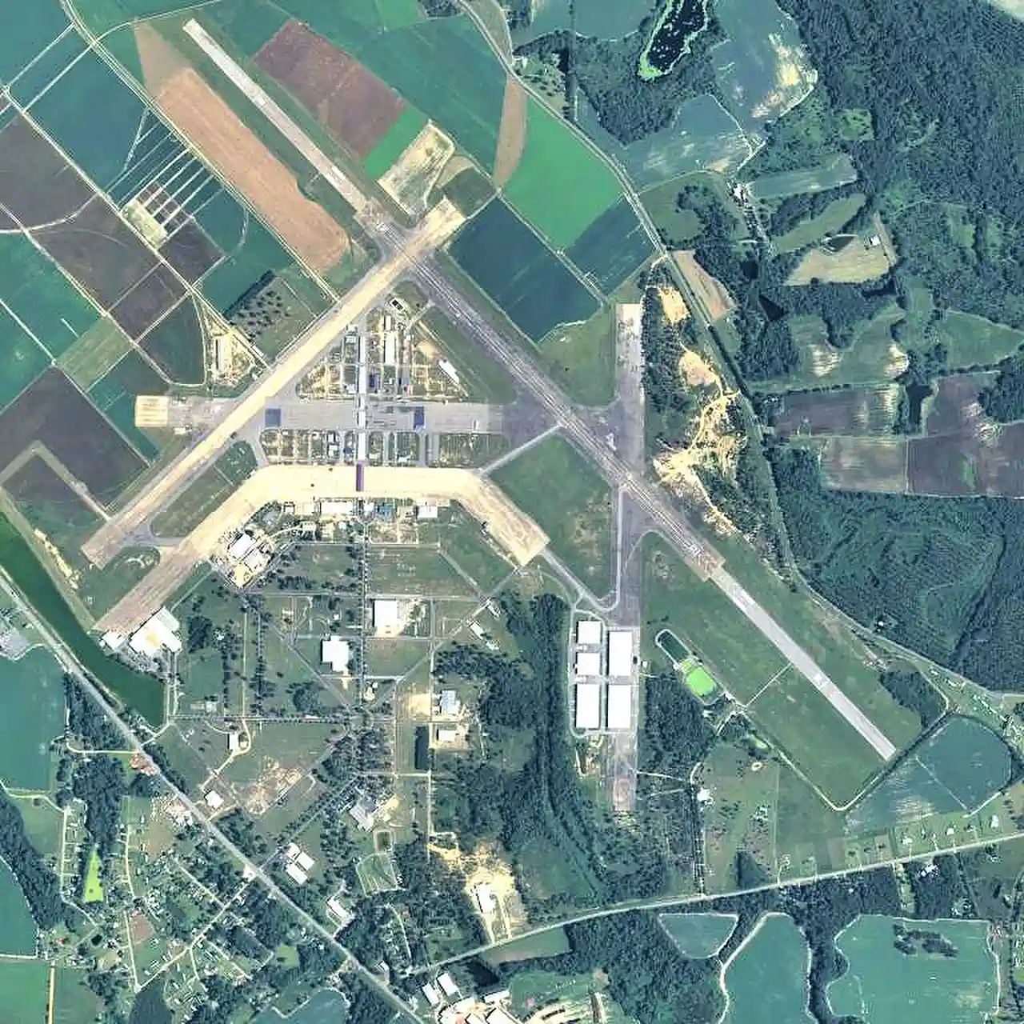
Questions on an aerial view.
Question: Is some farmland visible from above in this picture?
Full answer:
Yes, the picture does contain farmland.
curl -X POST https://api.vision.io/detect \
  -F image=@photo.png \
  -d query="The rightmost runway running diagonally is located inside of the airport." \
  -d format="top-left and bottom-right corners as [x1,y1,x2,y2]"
[352,196,705,581]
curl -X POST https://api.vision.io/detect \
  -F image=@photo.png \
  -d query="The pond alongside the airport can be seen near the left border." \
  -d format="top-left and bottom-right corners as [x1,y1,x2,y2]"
[0,510,166,727]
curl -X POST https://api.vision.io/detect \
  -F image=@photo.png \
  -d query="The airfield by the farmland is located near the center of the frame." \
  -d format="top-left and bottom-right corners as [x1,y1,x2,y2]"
[81,19,896,810]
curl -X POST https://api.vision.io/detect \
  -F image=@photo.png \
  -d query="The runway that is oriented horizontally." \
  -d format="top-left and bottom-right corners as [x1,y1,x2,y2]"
[166,398,502,432]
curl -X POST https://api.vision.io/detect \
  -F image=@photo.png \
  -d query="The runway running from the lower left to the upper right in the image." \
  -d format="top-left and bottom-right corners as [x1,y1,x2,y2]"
[87,199,465,568]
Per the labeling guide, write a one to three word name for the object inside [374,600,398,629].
building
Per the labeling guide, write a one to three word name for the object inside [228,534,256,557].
building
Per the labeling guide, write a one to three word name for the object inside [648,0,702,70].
pond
